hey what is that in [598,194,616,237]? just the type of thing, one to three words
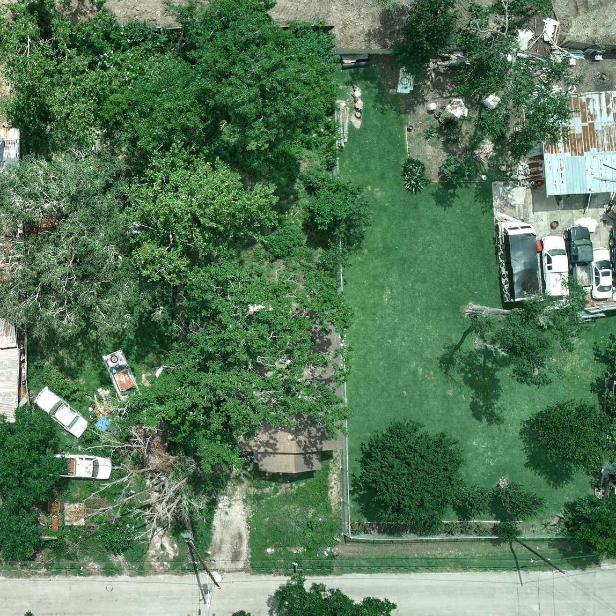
vehicle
